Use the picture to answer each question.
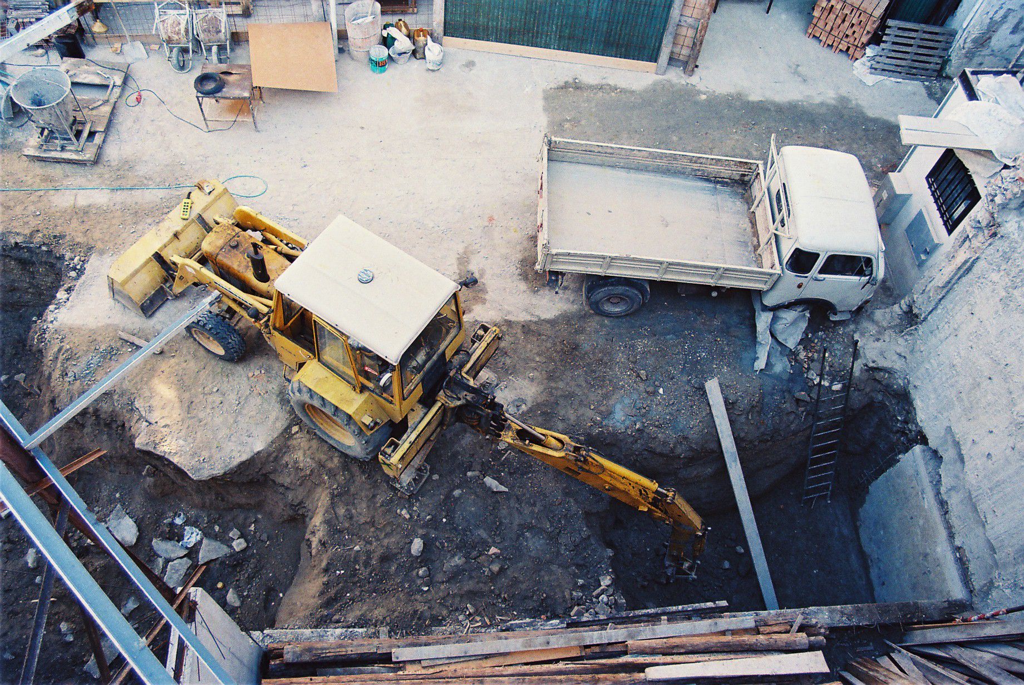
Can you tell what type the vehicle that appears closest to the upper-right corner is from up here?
truck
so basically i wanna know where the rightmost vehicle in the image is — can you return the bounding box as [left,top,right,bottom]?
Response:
[538,117,892,328]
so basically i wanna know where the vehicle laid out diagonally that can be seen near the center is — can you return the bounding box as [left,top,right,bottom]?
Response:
[101,179,707,607]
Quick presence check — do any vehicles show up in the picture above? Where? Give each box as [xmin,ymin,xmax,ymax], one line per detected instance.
[101,179,707,607]
[538,117,892,328]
